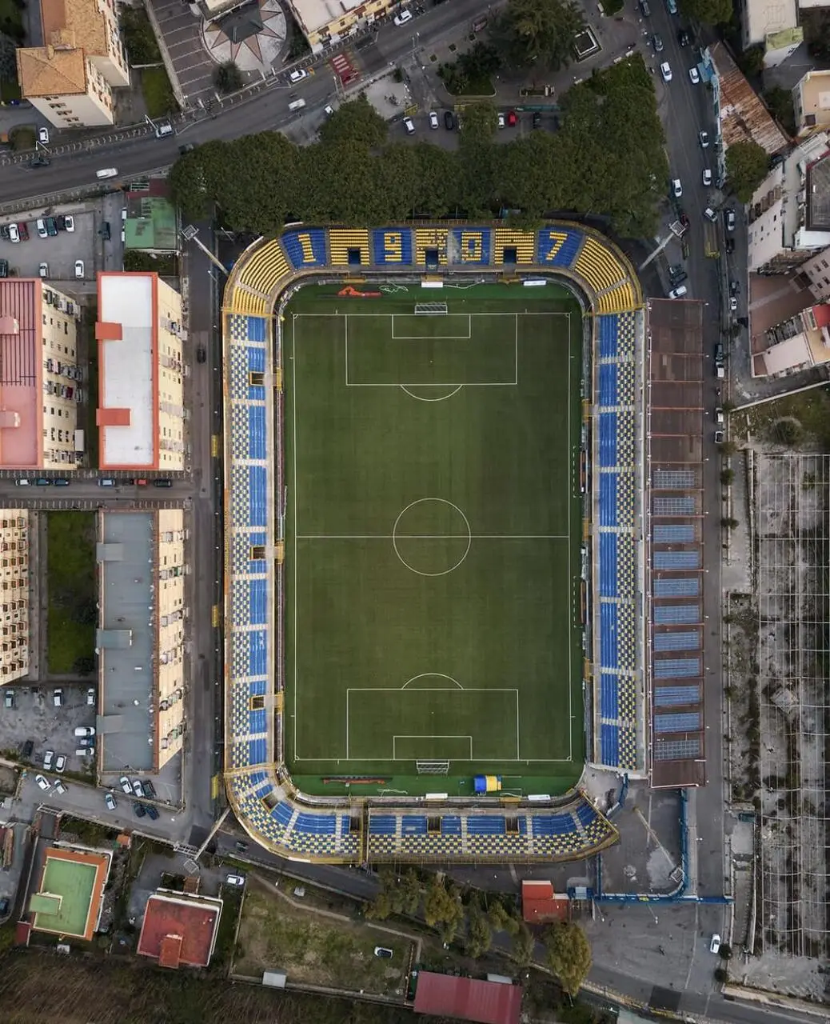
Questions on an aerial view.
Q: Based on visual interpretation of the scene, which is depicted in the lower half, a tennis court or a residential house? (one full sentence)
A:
Visible in the lower half is a residential house.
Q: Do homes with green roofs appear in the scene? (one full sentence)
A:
Yes, there's a home with a green roof here.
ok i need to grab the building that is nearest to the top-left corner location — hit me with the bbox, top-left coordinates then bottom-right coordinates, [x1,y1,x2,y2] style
[15,0,130,130]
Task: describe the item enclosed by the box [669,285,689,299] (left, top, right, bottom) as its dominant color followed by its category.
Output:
white car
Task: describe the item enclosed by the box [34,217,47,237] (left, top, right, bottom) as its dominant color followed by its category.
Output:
white vehicle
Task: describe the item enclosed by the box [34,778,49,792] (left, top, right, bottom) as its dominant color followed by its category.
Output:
white car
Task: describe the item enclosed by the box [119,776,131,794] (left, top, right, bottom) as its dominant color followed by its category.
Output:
white vehicle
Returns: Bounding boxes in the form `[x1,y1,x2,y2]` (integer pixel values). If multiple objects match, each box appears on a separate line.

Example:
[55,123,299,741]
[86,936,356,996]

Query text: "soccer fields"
[283,279,587,798]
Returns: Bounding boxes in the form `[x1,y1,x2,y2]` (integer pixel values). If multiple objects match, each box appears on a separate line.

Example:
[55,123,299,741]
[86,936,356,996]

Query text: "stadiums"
[221,213,710,867]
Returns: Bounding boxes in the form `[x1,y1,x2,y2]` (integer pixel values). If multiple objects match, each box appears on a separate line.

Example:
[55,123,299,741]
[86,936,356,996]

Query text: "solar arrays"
[654,685,700,705]
[654,605,699,623]
[654,551,699,569]
[653,658,699,677]
[653,578,699,597]
[653,631,699,650]
[653,712,700,732]
[652,470,694,488]
[655,739,700,760]
[653,525,694,543]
